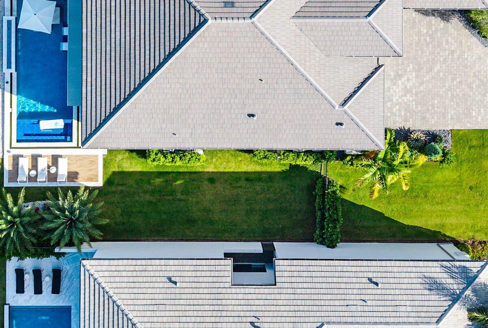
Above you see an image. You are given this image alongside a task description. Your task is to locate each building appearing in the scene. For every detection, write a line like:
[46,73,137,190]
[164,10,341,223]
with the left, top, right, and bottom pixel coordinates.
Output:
[79,0,488,150]
[79,240,488,328]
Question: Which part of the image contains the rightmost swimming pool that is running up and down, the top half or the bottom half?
top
